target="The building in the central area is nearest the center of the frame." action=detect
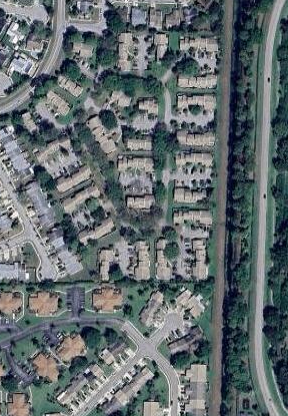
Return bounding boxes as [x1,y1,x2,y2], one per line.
[127,194,153,210]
